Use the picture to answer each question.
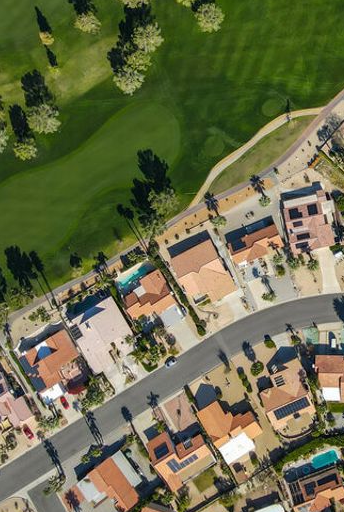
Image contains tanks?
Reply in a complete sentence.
No, I find no tank anywhere in the image.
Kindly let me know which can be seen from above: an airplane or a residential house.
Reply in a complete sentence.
The one in the frame is a residential house.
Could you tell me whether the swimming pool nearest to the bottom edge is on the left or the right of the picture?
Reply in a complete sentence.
The swimming pool nearest to the bottom edge appears in the right half of the scene.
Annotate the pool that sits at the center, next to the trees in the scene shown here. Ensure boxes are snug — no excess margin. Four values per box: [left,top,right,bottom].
[115,260,159,297]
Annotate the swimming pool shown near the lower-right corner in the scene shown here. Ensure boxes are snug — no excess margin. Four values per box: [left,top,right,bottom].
[285,447,340,479]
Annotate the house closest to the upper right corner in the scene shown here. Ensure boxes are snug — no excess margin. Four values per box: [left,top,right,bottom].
[283,191,338,253]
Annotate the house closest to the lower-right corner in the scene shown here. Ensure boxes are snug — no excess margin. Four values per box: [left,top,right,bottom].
[288,467,344,512]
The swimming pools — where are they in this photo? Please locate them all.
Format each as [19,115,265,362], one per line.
[115,260,159,297]
[285,447,340,479]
